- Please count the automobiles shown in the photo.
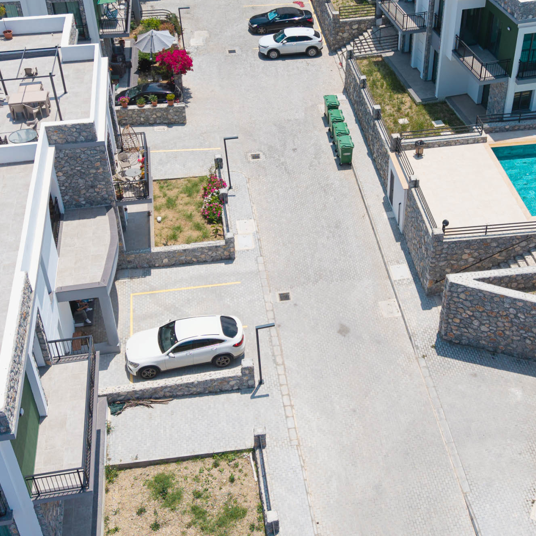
4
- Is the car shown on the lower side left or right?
left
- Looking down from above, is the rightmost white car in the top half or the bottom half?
top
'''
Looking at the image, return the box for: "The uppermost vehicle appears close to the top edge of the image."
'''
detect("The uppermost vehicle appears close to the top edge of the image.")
[247,7,314,34]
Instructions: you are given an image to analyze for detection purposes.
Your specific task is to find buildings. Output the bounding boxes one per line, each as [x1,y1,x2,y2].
[361,0,536,143]
[0,14,155,536]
